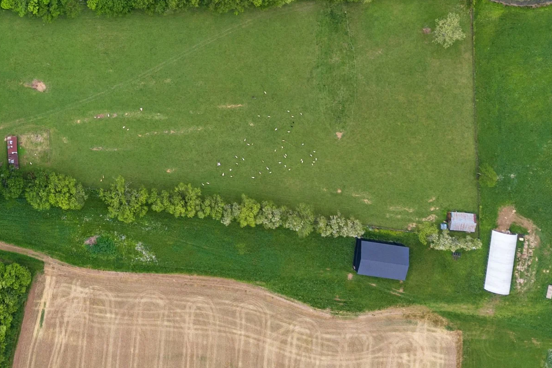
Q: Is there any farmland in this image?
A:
Yes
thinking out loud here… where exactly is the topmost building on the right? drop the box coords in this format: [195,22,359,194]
[447,211,478,232]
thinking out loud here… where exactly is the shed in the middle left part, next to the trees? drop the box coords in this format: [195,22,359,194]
[4,136,19,168]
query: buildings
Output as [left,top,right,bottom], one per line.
[484,231,519,297]
[353,238,411,282]
[4,136,19,168]
[447,211,478,232]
